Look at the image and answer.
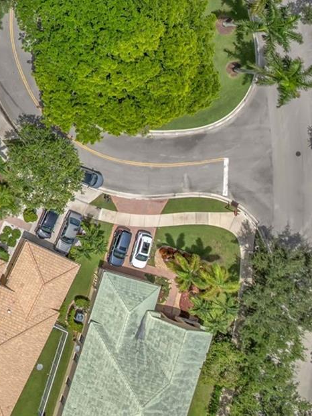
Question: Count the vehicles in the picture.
5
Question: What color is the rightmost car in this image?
white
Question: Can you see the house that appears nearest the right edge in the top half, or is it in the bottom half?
bottom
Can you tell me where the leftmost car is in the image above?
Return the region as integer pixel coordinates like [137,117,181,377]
[34,202,62,245]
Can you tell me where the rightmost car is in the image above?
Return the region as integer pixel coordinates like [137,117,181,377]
[126,226,156,270]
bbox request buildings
[52,267,211,416]
[0,238,81,416]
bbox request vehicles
[105,224,134,268]
[126,226,156,270]
[34,202,62,245]
[52,207,87,258]
[69,166,111,190]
